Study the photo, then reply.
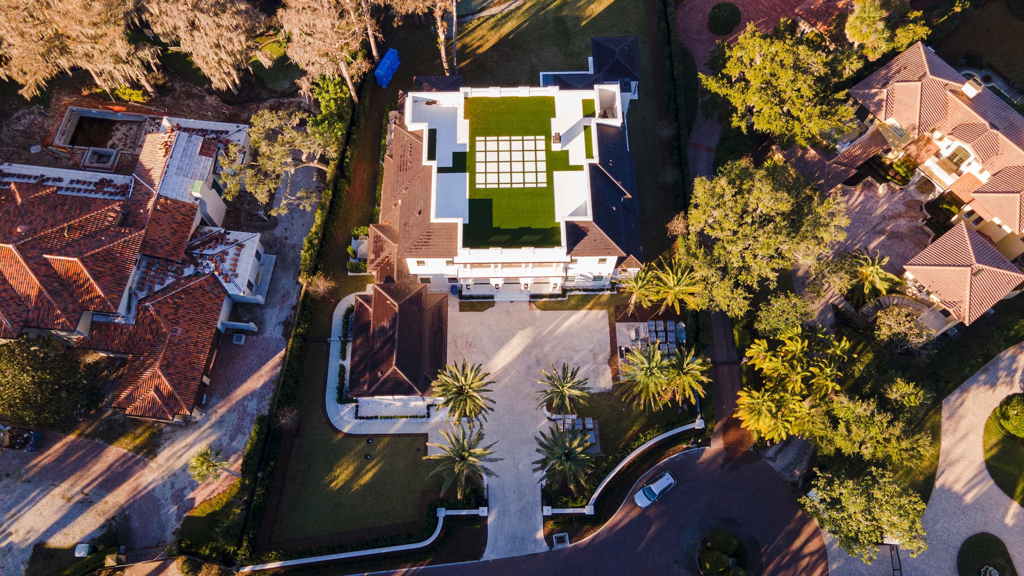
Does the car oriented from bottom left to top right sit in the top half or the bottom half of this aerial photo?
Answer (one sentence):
It is in the bottom half that the car oriented from bottom left to top right appears.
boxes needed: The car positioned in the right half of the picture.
[633,467,681,511]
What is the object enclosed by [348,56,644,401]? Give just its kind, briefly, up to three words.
house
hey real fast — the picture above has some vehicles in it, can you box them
[73,544,104,558]
[633,467,681,511]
